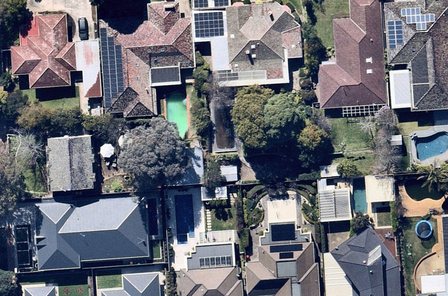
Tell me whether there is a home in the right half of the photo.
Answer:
Yes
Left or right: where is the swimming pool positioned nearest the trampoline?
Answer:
right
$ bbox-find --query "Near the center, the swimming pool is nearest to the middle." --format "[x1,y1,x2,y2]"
[213,97,239,152]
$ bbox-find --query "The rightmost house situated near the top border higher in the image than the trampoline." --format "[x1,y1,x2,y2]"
[382,0,448,110]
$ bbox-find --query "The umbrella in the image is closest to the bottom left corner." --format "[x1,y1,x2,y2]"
[100,143,115,157]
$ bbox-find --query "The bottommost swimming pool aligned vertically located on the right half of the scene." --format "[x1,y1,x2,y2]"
[351,175,370,214]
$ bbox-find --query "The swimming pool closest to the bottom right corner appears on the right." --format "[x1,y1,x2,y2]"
[403,175,448,202]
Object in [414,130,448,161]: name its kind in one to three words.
swimming pool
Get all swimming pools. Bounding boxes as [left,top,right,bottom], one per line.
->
[414,130,448,161]
[403,175,448,202]
[351,175,370,214]
[164,91,190,140]
[213,97,239,152]
[173,192,197,246]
